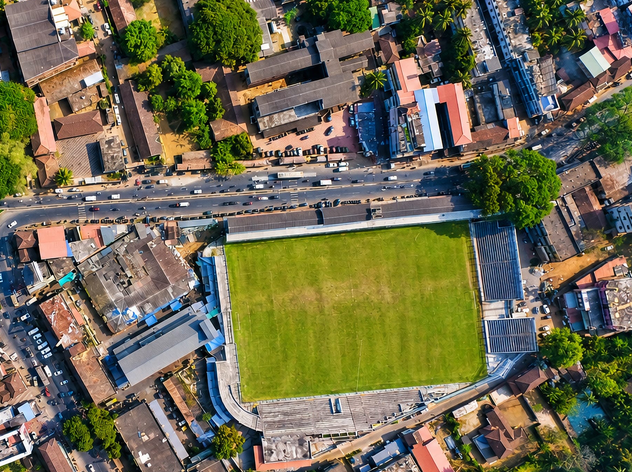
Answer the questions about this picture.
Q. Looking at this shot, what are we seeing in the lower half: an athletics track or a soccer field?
soccer field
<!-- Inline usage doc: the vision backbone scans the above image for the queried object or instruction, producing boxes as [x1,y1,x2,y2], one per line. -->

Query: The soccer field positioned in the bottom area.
[224,219,489,403]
